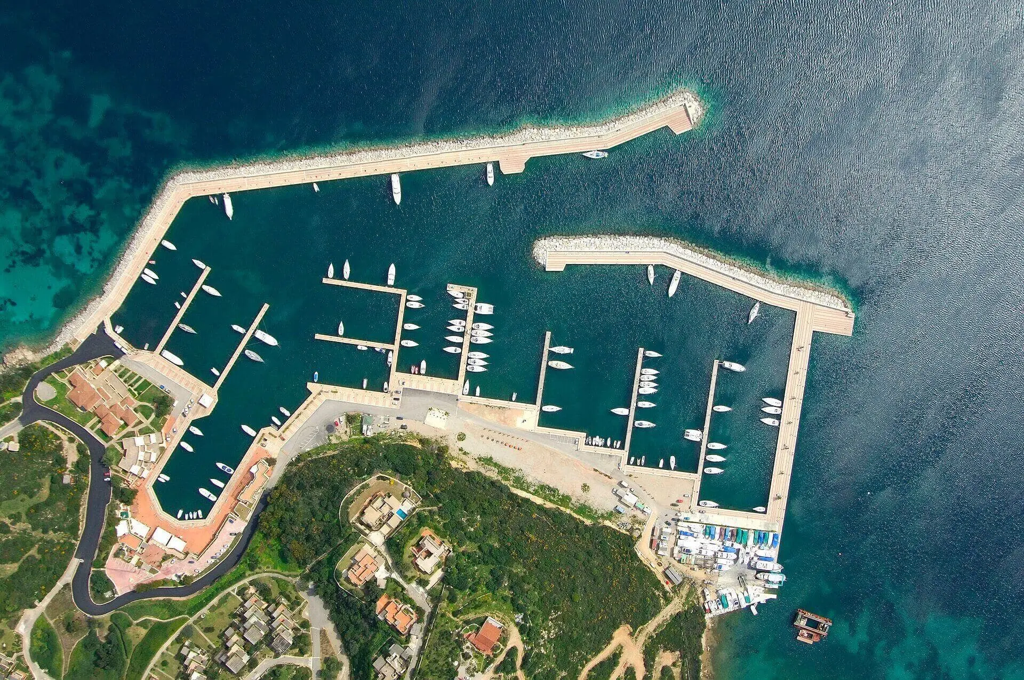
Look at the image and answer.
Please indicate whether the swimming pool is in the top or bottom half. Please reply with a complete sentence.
The swimming pool sits in the bottom half of the picture.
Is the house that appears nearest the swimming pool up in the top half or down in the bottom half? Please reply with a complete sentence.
The bottom half of the photo is where the house that appears nearest the swimming pool is.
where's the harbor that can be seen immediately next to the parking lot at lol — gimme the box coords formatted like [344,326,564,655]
[104,317,775,526]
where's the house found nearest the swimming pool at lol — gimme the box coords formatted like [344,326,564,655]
[361,491,402,535]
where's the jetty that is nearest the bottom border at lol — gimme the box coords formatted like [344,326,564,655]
[747,581,780,615]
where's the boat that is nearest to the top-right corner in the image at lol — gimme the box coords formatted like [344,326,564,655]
[749,301,763,323]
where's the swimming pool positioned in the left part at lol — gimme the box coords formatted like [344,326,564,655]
[396,498,416,519]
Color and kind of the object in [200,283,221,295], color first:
white boat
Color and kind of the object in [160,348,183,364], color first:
white boat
